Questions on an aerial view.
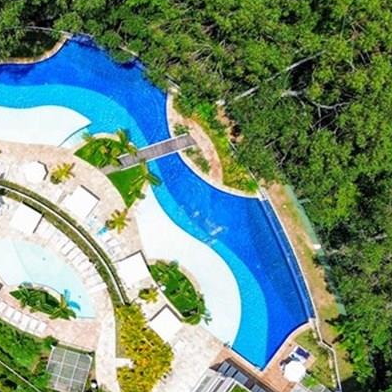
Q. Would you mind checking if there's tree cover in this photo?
Yes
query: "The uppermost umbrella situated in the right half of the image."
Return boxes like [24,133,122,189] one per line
[283,361,303,379]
